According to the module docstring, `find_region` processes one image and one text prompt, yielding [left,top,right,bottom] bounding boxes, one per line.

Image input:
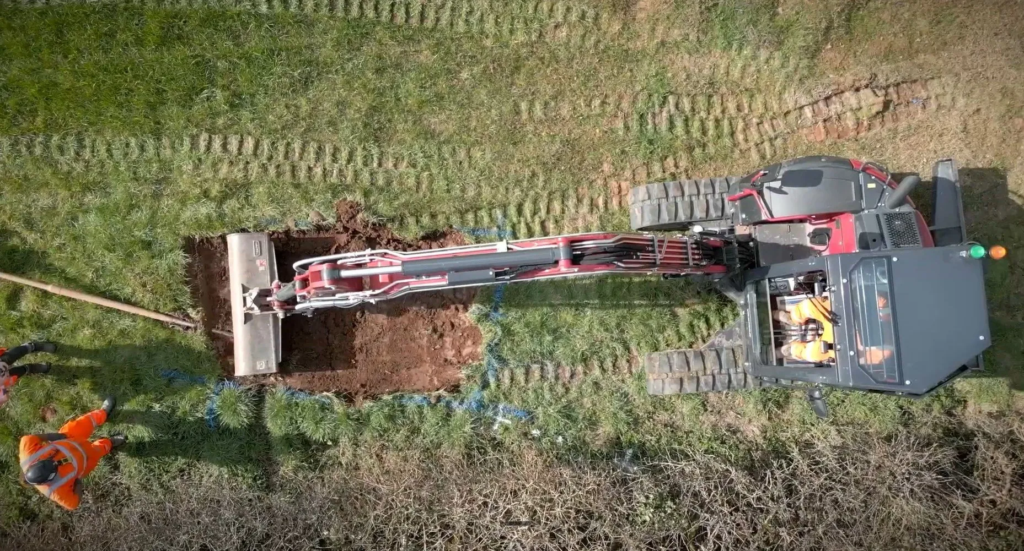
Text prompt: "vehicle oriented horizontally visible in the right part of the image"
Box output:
[227,151,1006,420]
